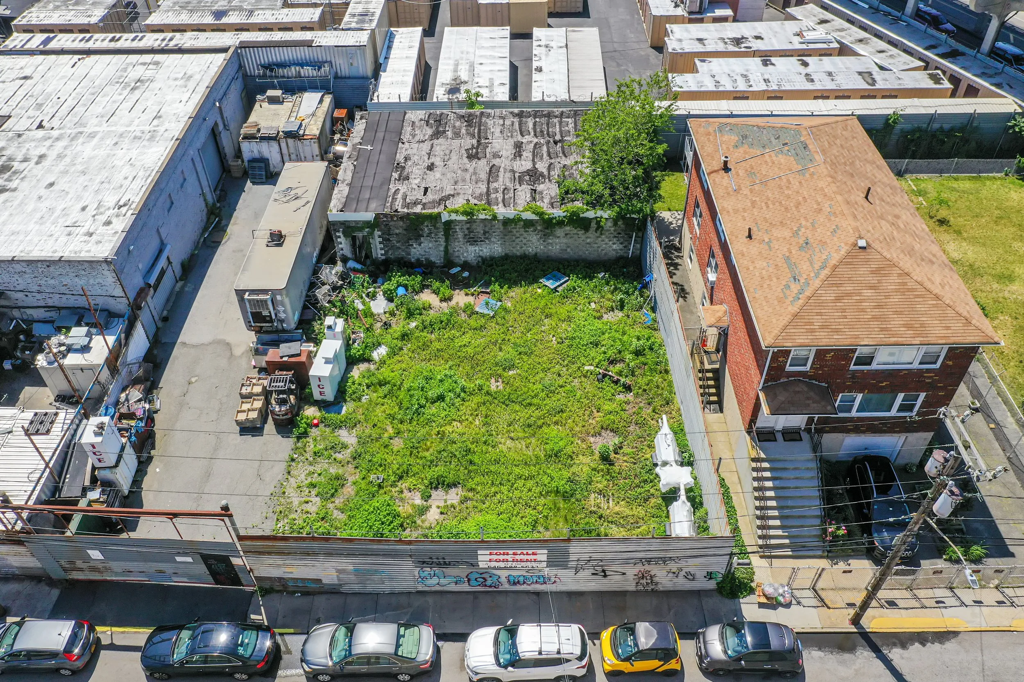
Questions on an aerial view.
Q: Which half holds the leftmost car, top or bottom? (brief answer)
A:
bottom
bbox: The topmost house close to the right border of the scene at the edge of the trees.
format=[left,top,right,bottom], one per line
[657,115,1008,557]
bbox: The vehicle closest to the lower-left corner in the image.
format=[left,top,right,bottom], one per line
[0,617,114,680]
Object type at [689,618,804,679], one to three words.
car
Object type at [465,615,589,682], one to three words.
car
